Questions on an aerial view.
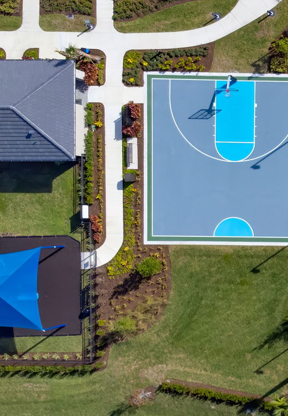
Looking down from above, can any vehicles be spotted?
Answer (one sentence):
No, there isn't any vehicle down there.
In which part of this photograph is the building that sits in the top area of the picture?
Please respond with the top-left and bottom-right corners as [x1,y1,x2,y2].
[0,59,87,161]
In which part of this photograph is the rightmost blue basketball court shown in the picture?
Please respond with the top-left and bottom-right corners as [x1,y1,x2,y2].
[143,72,288,246]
